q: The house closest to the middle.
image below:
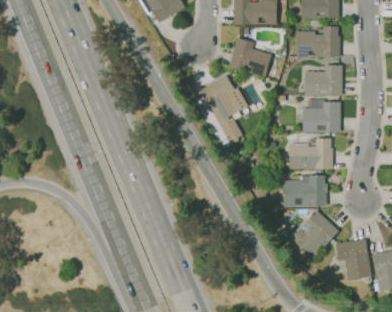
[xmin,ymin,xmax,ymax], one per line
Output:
[200,74,246,144]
